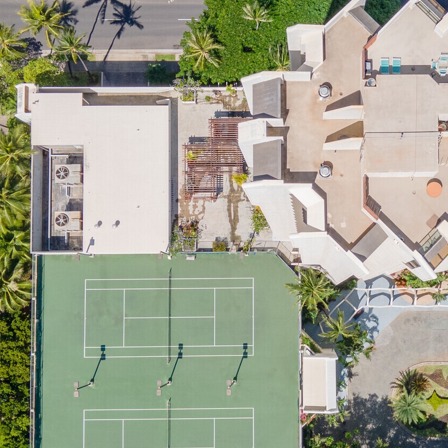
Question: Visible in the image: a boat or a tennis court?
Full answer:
It is a tennis court that can be seen here.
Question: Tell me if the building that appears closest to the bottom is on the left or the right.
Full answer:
The building that appears closest to the bottom appears in the right half of the scene.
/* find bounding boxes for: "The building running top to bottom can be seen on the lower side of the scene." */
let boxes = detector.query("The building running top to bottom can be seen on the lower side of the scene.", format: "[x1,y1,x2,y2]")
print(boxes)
[304,336,338,414]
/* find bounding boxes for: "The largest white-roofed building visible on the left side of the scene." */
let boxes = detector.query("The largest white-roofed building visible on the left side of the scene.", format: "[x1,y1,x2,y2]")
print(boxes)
[15,83,176,256]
